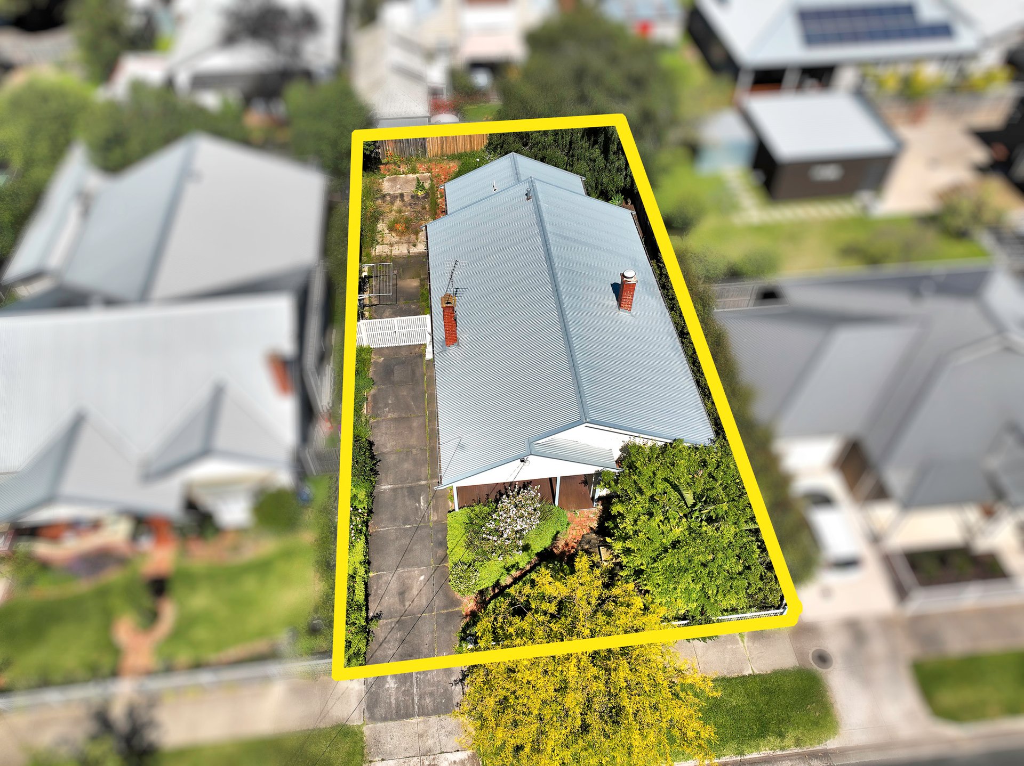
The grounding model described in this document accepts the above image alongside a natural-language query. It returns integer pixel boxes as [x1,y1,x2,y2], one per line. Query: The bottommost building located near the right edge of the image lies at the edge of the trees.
[714,236,1024,543]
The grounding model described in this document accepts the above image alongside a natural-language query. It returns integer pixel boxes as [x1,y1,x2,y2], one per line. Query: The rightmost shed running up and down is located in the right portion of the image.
[980,96,1024,189]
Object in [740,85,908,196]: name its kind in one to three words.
shed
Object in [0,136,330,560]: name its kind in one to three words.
house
